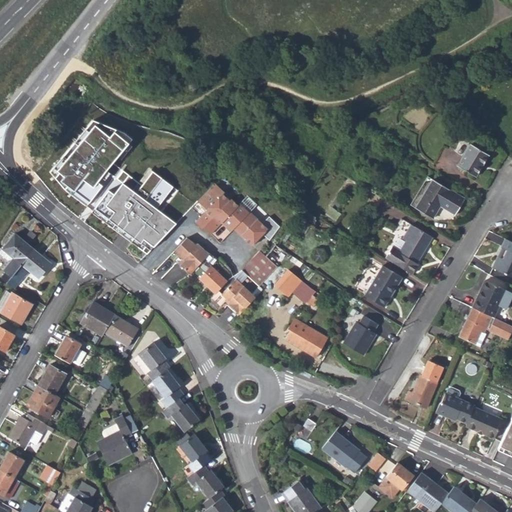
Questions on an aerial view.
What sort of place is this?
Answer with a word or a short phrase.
residential area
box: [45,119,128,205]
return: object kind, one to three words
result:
building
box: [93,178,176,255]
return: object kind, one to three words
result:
building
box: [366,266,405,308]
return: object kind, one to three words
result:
house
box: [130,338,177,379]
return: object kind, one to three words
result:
house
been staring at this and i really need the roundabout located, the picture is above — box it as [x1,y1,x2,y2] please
[232,374,263,406]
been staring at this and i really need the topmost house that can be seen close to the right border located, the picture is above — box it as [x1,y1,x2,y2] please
[458,144,491,178]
